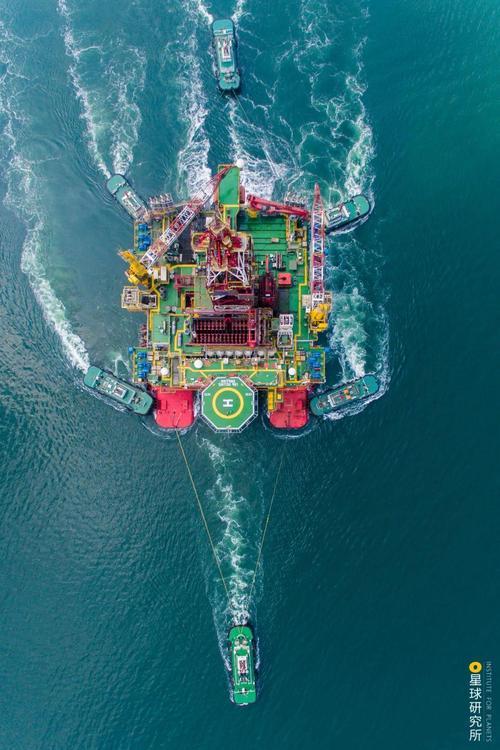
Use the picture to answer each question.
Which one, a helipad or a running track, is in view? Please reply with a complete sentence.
There is a helipad in the scene.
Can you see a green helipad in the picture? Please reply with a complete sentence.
Yes, the frame does contain a green helipad.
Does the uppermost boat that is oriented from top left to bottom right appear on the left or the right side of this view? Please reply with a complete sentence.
The uppermost boat that is oriented from top left to bottom right is on the left side of the image.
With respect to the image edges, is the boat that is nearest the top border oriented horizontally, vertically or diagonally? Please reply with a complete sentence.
Seen from above, the boat that is nearest the top border lies vertically.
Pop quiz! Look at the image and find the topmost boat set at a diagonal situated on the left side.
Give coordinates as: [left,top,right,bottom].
[107,173,152,221]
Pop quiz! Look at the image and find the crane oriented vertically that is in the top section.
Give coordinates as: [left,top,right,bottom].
[305,182,333,337]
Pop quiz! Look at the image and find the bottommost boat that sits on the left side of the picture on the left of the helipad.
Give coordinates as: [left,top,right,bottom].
[83,363,153,415]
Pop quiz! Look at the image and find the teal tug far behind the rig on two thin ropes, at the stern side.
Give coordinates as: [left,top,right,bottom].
[212,17,244,94]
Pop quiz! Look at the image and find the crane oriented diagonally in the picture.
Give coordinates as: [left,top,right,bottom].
[123,165,230,305]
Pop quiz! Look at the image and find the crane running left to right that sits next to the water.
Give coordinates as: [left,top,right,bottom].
[246,196,312,221]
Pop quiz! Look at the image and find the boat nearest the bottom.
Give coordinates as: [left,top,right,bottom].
[227,623,256,706]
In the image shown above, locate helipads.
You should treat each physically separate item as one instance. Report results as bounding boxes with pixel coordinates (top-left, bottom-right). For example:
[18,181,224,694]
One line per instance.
[199,374,259,434]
